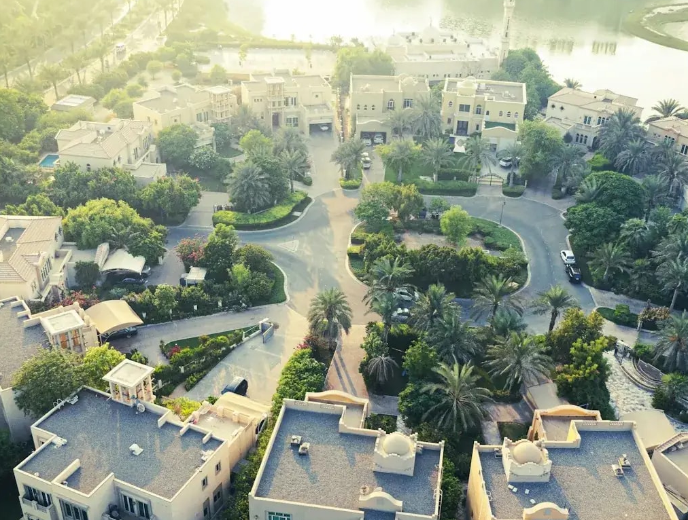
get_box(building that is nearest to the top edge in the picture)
[379,16,496,86]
